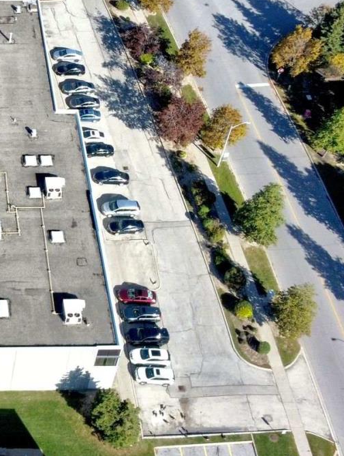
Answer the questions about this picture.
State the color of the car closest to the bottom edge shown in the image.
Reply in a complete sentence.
The car closest to the bottom edge is white.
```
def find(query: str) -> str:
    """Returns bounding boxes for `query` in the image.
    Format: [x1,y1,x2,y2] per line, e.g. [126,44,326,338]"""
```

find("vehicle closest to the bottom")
[134,364,176,386]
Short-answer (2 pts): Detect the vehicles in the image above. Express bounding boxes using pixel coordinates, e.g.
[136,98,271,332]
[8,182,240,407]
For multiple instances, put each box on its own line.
[52,49,84,63]
[127,324,169,345]
[117,287,158,305]
[54,62,85,77]
[101,198,140,216]
[134,364,176,386]
[121,304,163,324]
[68,95,101,110]
[107,217,145,234]
[93,169,129,186]
[83,128,109,143]
[85,141,117,159]
[70,109,104,124]
[61,79,94,95]
[129,345,171,367]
